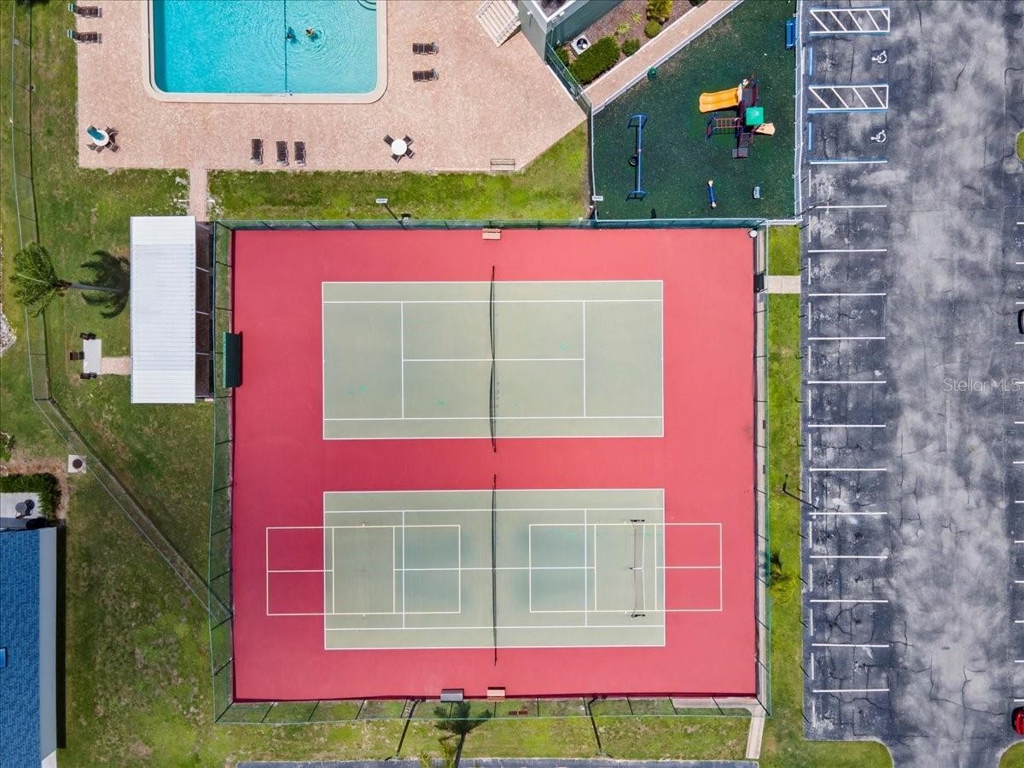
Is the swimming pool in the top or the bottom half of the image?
top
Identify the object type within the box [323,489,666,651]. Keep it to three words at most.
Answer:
tennis court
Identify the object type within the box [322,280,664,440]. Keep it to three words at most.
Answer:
tennis court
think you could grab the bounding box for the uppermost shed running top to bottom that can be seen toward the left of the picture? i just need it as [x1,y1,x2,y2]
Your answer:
[131,215,209,404]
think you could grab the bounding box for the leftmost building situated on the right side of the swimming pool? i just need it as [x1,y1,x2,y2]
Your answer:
[504,0,627,65]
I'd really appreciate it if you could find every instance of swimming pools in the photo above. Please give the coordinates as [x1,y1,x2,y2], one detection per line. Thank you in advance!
[144,0,386,103]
